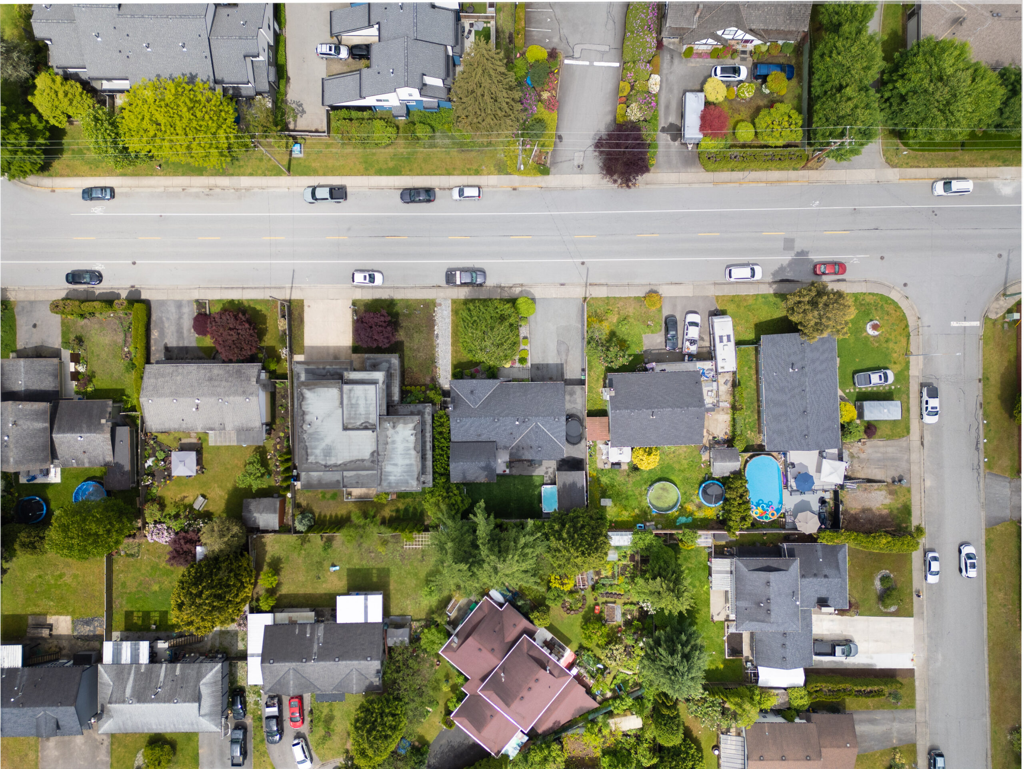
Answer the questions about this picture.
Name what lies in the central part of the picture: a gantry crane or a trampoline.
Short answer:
trampoline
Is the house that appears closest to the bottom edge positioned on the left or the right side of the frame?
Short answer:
right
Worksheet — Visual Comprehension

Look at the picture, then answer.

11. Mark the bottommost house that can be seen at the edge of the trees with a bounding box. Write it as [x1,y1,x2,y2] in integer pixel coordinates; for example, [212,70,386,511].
[716,705,861,769]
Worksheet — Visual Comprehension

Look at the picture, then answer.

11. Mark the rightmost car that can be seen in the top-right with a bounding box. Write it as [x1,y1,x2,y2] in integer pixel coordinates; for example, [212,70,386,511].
[929,179,974,196]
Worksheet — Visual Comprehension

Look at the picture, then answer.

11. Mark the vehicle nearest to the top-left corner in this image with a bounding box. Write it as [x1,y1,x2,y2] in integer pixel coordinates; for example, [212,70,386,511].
[83,185,118,202]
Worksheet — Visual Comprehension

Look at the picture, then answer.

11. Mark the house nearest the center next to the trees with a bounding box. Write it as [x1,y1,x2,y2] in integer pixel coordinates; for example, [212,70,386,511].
[448,379,566,482]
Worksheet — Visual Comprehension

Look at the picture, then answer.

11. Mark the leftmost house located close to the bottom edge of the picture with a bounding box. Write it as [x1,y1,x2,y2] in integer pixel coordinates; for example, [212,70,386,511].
[0,636,102,742]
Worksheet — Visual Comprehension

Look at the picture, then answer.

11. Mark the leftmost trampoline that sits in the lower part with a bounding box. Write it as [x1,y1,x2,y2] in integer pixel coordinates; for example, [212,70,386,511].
[10,494,49,525]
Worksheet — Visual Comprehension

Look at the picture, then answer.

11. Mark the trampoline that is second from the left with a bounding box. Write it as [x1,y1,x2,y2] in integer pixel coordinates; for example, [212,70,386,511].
[566,415,582,446]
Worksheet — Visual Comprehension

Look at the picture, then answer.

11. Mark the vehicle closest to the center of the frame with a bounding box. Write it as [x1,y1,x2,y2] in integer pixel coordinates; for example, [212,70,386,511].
[445,268,487,285]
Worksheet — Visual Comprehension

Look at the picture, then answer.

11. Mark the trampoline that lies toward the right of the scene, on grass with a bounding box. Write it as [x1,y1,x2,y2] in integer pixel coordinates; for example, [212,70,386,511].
[698,480,728,508]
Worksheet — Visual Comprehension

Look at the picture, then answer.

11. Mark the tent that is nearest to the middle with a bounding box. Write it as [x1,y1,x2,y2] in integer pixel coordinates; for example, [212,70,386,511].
[607,446,631,462]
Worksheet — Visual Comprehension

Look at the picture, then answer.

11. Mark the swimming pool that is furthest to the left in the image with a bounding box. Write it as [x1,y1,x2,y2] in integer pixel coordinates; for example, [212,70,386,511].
[73,479,110,511]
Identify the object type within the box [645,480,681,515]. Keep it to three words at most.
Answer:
swimming pool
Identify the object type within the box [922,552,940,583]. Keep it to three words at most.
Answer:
car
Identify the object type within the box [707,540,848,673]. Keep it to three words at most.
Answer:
house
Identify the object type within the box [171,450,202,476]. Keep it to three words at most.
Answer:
gazebo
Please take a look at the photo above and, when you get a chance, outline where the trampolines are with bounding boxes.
[10,494,49,525]
[566,415,582,446]
[698,480,728,508]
